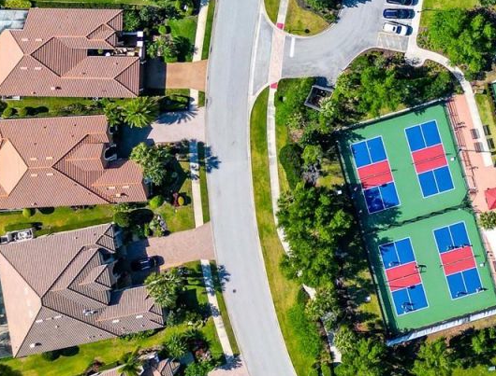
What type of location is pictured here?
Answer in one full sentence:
What you see here is a residential area.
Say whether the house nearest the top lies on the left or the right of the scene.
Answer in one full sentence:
The house nearest the top appears in the left half of the scene.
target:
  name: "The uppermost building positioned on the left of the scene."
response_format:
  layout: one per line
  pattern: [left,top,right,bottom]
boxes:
[0,8,143,98]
